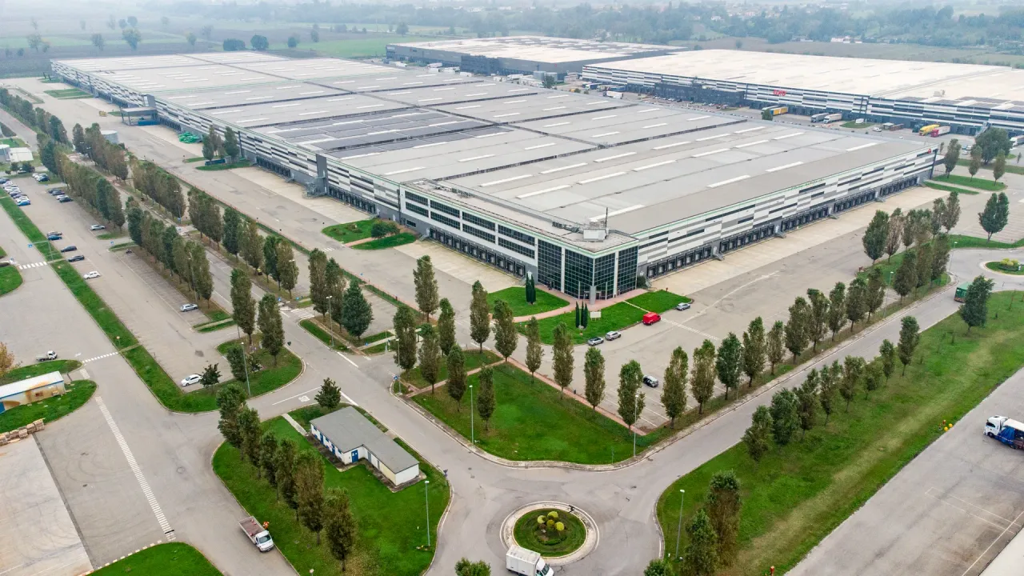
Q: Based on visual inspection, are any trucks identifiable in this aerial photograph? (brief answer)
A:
Yes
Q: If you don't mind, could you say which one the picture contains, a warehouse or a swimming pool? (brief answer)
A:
warehouse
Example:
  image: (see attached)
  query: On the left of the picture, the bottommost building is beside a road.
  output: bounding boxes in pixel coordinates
[306,408,418,487]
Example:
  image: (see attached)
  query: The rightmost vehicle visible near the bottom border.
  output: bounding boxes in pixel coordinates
[507,541,554,576]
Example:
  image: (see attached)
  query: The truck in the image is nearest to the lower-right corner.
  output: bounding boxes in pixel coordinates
[982,421,1024,447]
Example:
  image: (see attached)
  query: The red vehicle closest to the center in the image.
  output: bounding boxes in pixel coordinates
[641,311,663,324]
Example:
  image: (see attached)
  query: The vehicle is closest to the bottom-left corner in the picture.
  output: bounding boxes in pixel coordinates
[33,346,59,360]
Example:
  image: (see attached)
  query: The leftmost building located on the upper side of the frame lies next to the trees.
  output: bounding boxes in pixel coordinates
[9,148,35,173]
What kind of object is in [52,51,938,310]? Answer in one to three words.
warehouse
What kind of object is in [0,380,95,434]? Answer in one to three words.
shed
